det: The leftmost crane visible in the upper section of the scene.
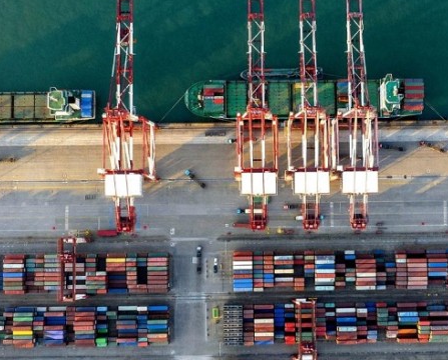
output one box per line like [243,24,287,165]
[93,0,161,233]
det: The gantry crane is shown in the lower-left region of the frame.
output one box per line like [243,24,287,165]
[59,237,91,303]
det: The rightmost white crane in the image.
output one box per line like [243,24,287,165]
[325,0,379,231]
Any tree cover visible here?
No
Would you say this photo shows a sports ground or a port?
port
